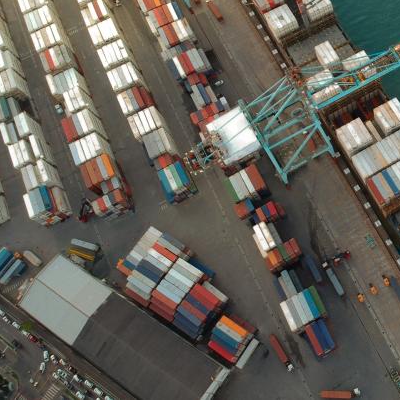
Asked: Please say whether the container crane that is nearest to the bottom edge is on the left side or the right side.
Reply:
right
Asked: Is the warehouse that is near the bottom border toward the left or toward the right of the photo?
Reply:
left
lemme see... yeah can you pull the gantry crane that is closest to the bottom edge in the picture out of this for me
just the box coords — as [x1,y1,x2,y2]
[177,44,400,188]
